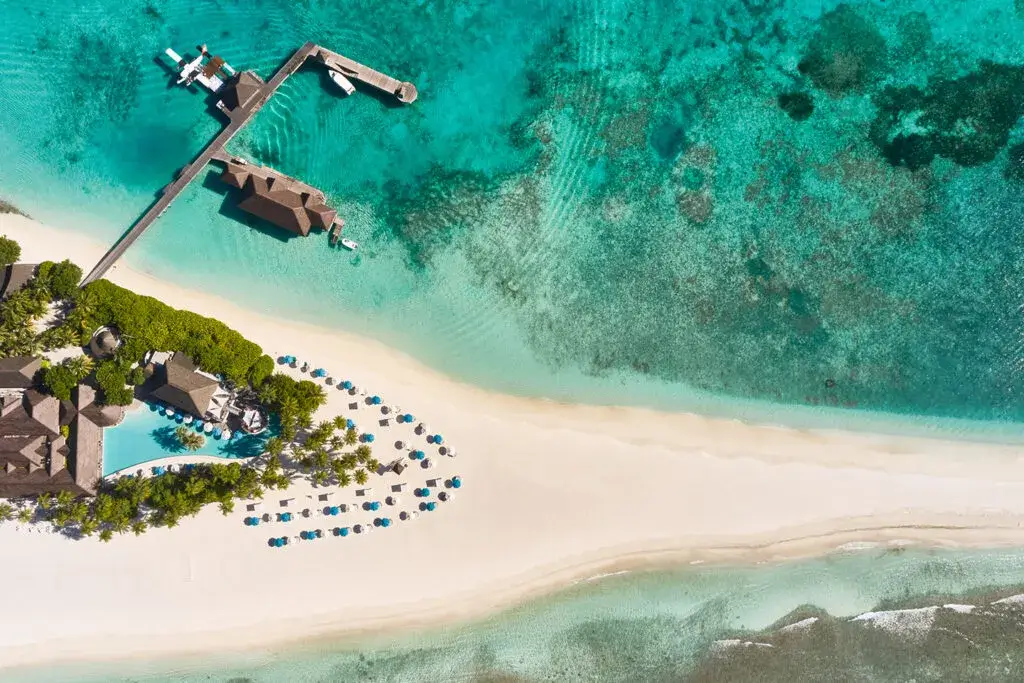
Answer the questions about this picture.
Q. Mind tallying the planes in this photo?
one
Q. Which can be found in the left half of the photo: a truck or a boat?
boat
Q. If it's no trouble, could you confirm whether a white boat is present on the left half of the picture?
Yes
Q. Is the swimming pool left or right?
left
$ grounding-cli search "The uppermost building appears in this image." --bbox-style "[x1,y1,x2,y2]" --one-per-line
[212,70,268,117]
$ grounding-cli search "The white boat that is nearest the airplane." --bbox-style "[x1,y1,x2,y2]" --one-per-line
[330,71,356,95]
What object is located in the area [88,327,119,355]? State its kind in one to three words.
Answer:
shed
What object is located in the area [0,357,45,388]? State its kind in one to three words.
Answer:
house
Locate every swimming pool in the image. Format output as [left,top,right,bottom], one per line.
[105,402,285,477]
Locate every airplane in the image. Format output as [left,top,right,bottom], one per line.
[165,40,214,89]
